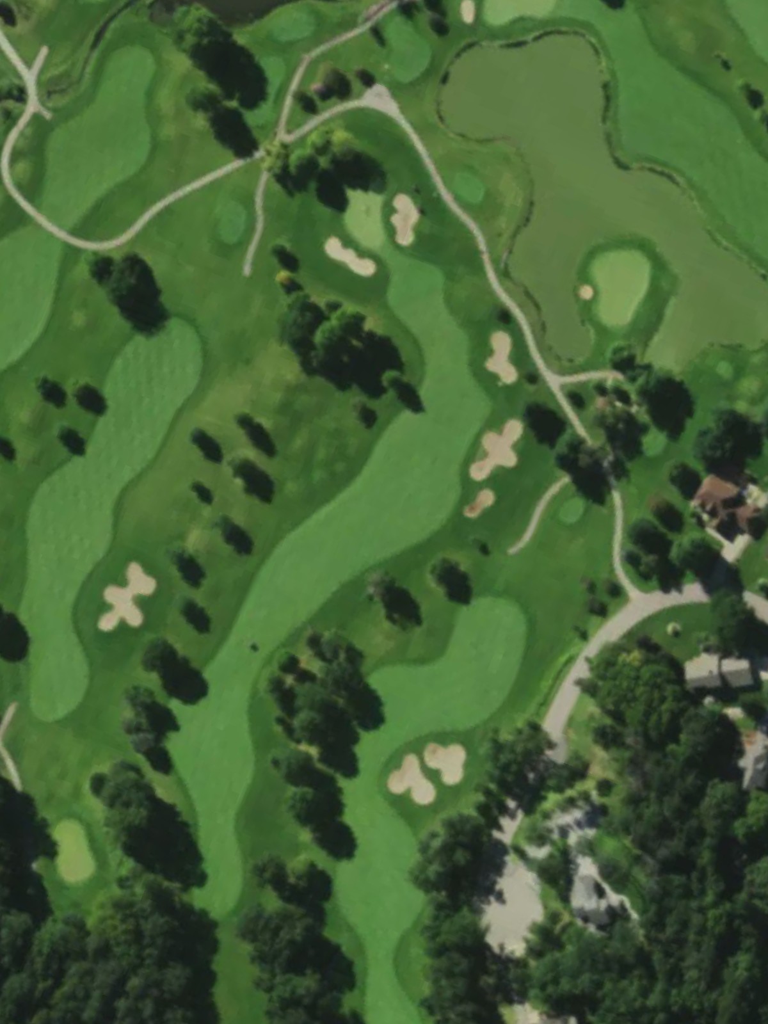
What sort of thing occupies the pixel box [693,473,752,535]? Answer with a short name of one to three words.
house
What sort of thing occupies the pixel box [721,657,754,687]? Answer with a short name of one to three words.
building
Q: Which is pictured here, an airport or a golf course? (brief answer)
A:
golf course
